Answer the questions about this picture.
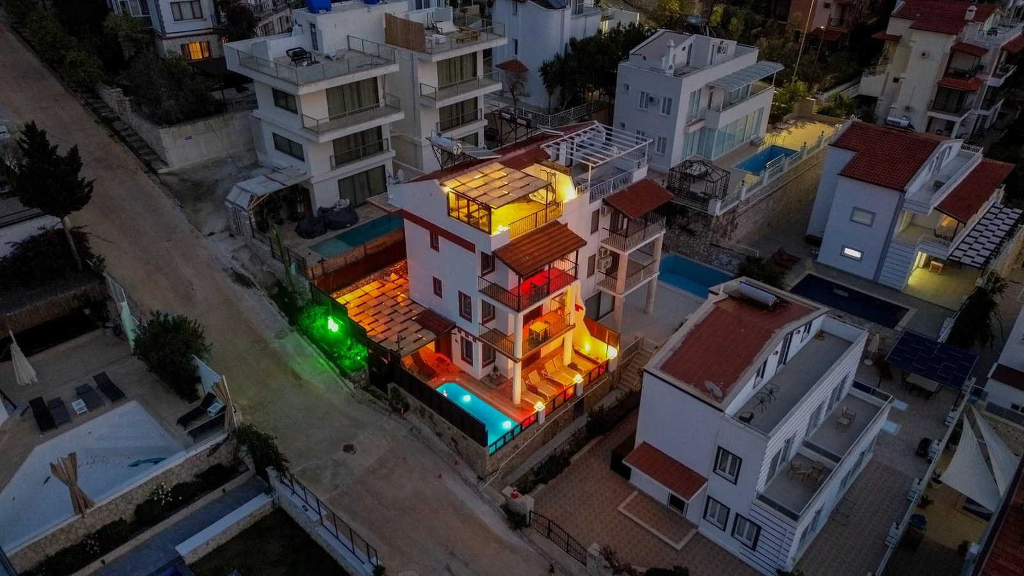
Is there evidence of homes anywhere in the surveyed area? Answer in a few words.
Yes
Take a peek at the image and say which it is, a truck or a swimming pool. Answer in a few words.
swimming pool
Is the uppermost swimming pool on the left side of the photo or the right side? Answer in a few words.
right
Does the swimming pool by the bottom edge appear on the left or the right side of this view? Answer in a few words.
left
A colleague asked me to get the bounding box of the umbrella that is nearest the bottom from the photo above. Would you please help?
[44,467,88,520]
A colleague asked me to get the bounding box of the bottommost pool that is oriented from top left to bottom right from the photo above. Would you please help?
[430,379,523,449]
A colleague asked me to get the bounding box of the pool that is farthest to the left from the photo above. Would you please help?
[0,402,186,548]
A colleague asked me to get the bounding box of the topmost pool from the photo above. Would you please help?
[729,145,801,175]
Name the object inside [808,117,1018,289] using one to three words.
house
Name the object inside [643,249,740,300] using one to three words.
swimming pool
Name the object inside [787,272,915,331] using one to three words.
swimming pool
